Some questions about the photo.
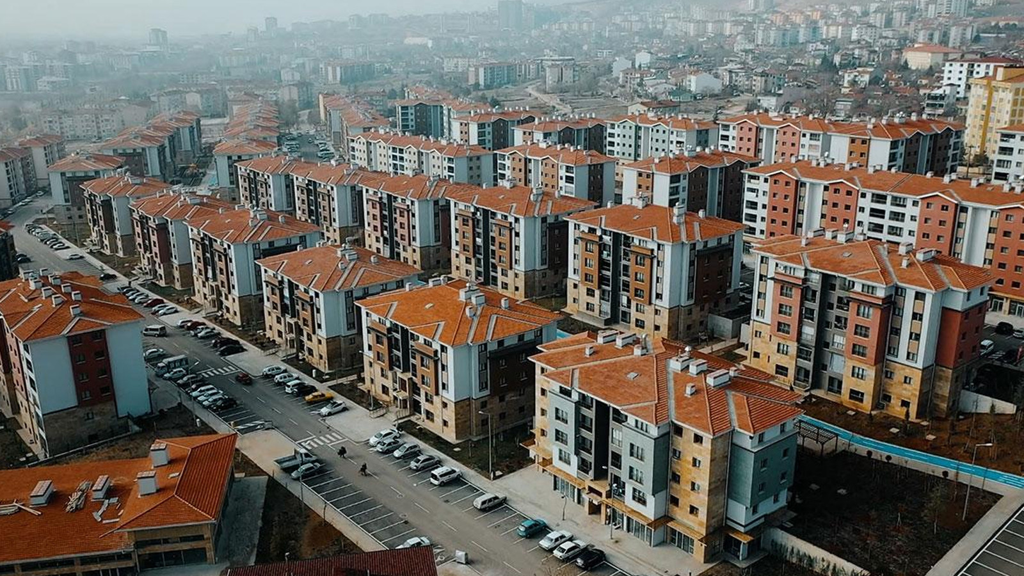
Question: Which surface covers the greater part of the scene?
buildings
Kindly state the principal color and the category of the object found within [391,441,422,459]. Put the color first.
gray car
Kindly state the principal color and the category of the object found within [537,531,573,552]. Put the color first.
white car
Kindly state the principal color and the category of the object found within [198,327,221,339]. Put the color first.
gray vehicle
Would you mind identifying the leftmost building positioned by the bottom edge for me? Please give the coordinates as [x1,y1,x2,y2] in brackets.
[0,433,232,576]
